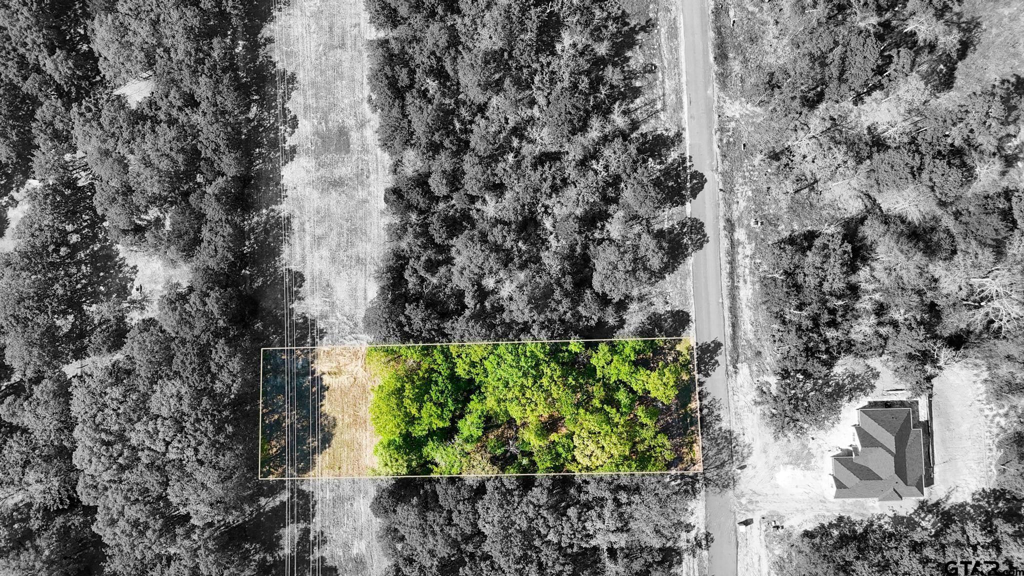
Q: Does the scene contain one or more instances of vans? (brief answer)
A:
No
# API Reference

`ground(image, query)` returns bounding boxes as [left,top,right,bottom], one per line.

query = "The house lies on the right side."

[829,408,924,501]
